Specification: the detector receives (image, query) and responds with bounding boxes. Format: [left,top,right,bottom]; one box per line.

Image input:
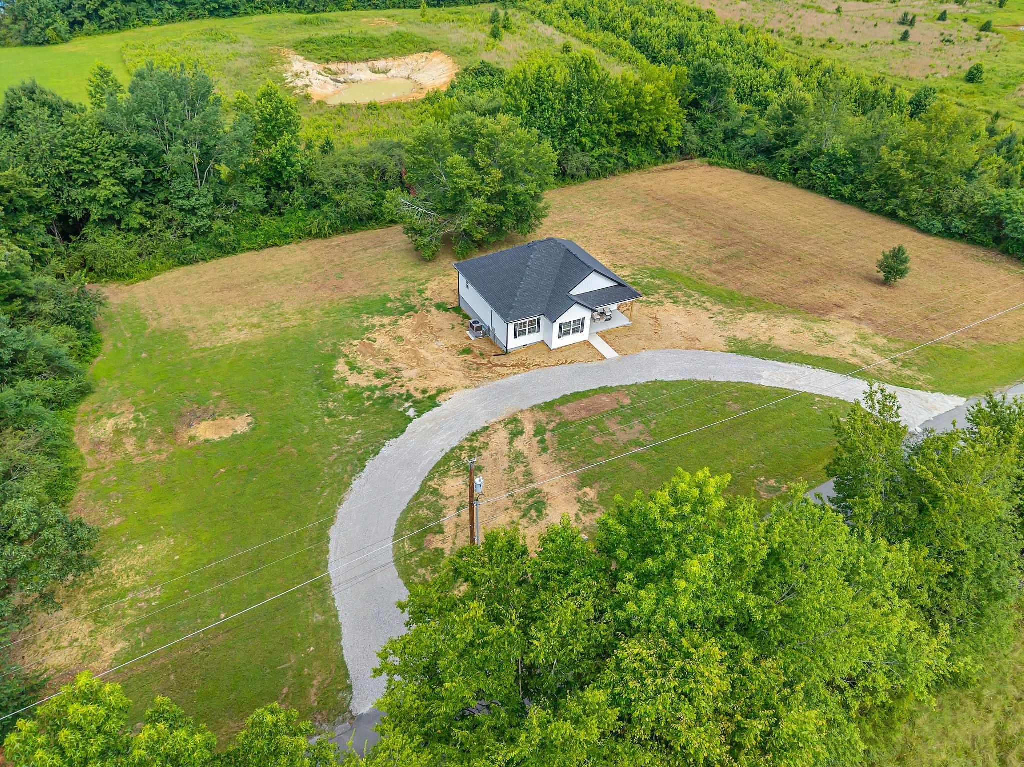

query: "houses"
[446,234,643,353]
